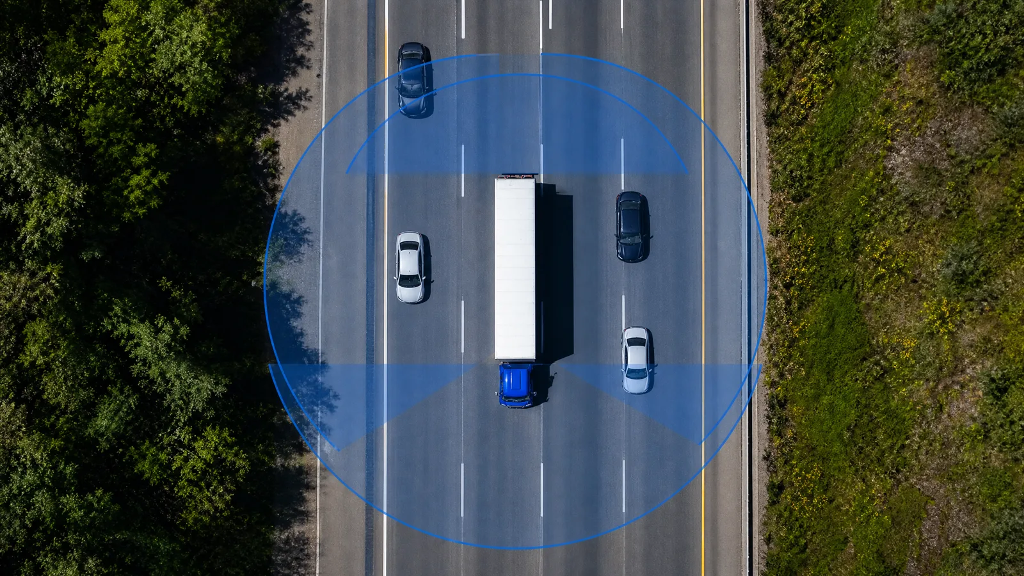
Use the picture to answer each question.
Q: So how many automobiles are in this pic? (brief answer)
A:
four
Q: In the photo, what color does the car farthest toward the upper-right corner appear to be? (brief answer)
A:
black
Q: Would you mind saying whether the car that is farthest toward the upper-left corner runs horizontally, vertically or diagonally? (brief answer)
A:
vertically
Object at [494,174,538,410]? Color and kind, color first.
white truck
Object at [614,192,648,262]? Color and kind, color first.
black car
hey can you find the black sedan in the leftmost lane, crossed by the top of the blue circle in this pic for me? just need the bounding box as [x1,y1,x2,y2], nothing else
[395,43,430,120]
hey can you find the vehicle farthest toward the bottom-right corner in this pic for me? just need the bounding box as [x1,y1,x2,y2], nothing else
[619,326,653,393]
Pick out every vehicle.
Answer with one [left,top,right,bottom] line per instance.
[619,326,653,393]
[614,192,648,262]
[494,174,538,410]
[395,43,430,120]
[393,231,426,304]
